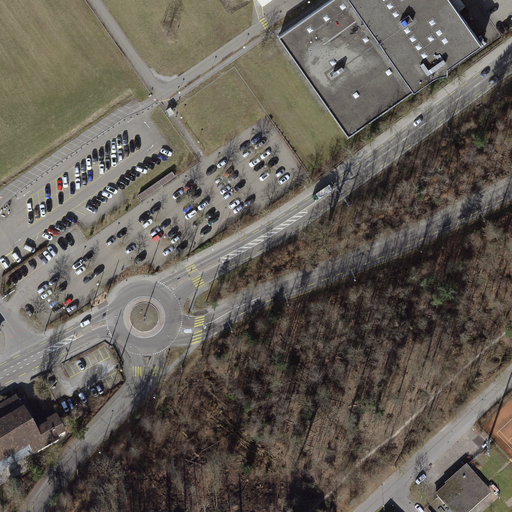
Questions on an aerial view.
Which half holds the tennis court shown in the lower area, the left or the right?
right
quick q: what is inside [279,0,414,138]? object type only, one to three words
building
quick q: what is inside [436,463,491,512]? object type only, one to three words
building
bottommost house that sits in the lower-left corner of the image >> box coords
[0,404,67,471]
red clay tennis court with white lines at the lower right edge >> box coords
[481,398,512,460]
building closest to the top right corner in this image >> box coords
[356,0,482,96]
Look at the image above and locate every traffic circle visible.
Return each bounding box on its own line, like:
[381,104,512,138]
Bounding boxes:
[106,280,183,356]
